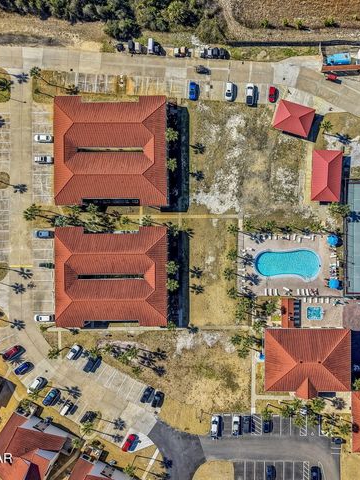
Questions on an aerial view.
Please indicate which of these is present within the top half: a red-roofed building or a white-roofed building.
red-roofed building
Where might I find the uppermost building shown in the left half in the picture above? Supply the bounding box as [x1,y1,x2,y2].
[52,96,168,206]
